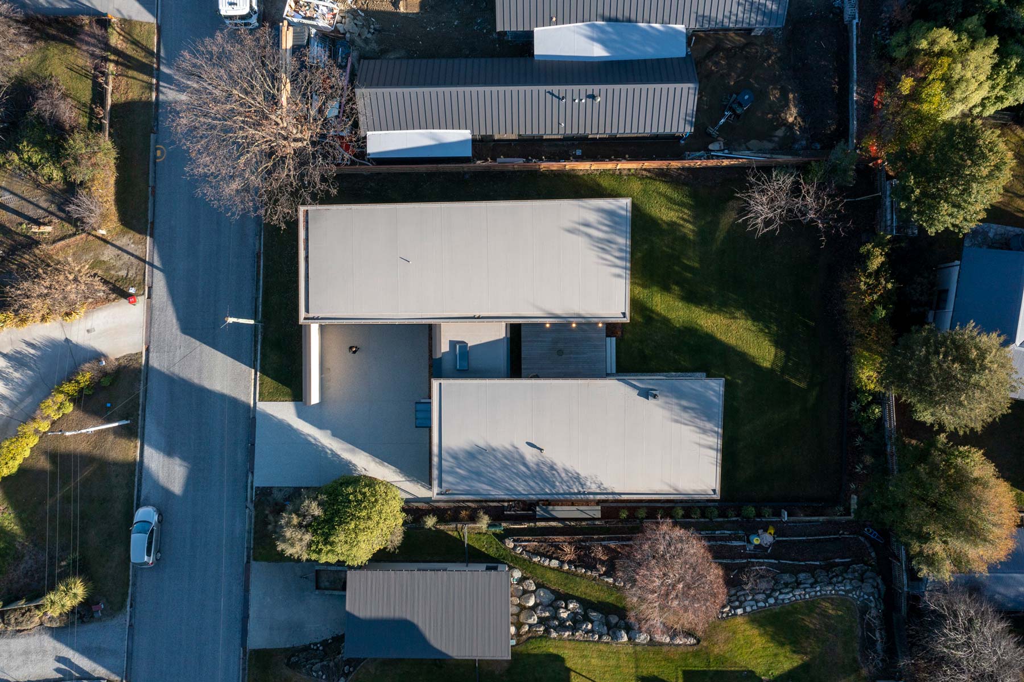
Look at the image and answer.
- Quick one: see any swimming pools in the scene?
No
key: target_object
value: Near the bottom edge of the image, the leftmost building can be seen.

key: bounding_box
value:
[344,554,512,661]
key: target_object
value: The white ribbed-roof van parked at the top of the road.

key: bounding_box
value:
[219,0,256,30]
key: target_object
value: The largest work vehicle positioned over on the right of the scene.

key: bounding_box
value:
[700,84,759,139]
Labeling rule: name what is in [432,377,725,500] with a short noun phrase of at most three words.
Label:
house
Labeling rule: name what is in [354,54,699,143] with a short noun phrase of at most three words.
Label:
house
